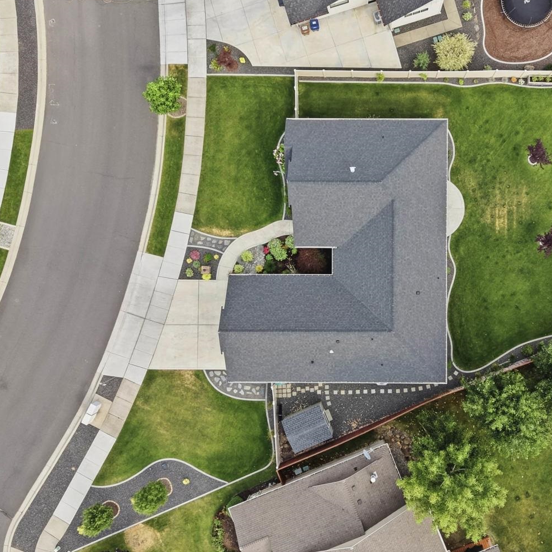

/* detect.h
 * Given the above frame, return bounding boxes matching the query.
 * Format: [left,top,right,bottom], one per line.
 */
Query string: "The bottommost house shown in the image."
[227,442,451,552]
